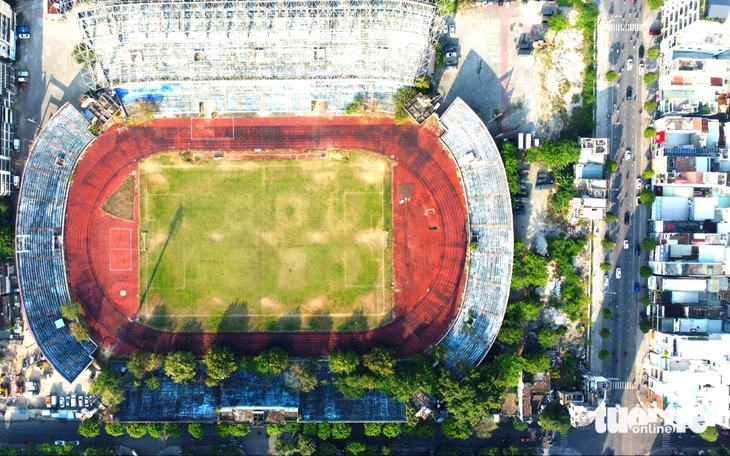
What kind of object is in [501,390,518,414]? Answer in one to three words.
house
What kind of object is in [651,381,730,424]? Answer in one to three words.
house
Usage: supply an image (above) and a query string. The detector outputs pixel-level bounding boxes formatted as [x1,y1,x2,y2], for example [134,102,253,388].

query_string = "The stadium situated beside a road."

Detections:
[14,0,515,423]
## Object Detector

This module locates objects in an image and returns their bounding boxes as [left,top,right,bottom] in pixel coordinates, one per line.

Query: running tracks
[65,116,468,356]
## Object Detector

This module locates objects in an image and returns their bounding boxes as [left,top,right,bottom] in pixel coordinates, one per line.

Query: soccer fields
[139,150,393,331]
